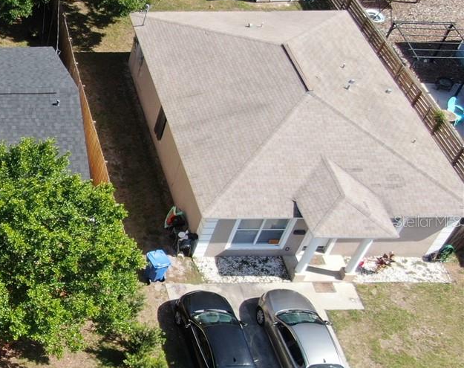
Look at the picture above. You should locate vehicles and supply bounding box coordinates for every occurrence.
[264,289,350,368]
[177,291,259,368]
